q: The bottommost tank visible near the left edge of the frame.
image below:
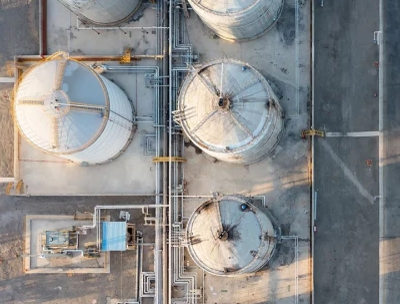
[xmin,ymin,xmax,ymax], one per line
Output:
[12,54,138,164]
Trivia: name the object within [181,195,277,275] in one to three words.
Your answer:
storage tank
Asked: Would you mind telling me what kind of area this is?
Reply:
industrial area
